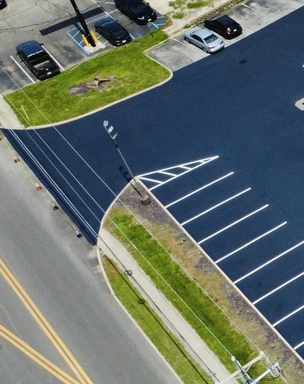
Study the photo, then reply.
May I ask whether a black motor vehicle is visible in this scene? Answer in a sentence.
Yes, you can see a black motor vehicle in this photo.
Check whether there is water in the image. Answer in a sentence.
No, the scene doesn't show any water.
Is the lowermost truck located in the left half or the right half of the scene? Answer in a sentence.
The lowermost truck sits on the left side.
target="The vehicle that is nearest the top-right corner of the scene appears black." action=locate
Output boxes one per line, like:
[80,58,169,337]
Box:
[204,17,244,41]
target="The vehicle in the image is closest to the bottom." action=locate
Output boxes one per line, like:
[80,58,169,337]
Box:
[16,45,61,80]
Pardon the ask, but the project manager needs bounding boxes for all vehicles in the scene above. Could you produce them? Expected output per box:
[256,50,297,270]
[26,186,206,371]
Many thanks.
[16,45,61,80]
[115,0,156,24]
[184,29,227,56]
[204,17,244,41]
[93,17,132,47]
